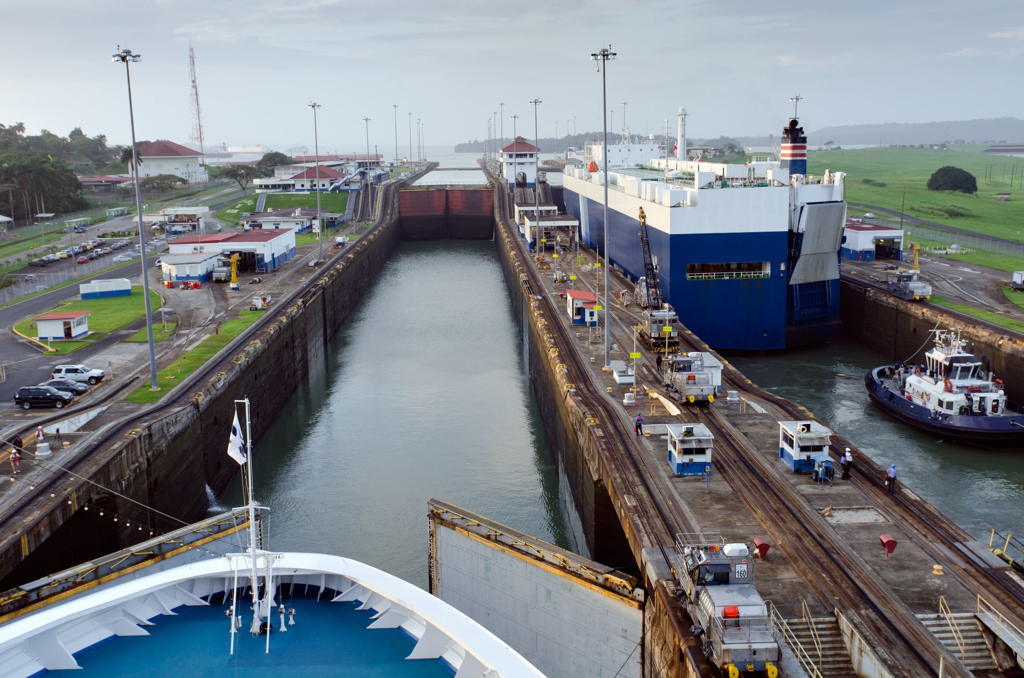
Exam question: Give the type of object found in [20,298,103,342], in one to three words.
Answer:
shed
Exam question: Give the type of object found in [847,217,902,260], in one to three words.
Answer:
building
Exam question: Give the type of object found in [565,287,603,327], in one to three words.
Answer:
shed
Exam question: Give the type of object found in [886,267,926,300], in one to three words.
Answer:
rail car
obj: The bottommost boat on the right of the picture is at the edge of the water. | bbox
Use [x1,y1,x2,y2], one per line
[854,314,1024,459]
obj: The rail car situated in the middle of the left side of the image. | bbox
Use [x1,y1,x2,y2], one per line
[211,255,231,279]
